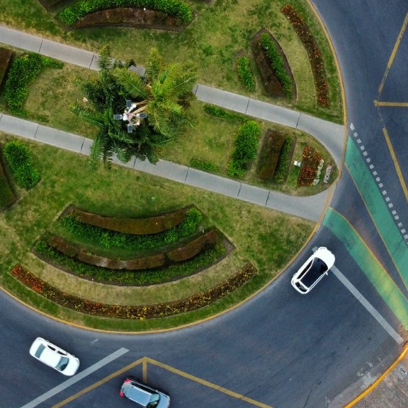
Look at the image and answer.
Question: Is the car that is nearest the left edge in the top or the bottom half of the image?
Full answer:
The car that is nearest the left edge sits in the bottom half of the picture.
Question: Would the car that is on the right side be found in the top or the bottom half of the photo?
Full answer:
The car that is on the right side sits in the bottom half of the picture.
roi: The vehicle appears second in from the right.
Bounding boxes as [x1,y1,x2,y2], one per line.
[117,376,170,408]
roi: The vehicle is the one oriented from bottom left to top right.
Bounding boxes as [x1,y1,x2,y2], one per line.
[291,244,335,299]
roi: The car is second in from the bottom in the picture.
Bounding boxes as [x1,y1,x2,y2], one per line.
[27,336,81,376]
